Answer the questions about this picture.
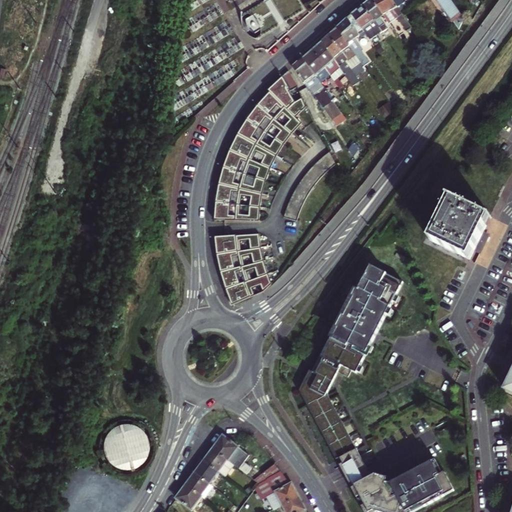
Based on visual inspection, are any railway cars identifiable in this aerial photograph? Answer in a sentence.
No, I can see no railway car in this picture.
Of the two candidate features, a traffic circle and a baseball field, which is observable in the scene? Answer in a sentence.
This aerial view contains a traffic circle.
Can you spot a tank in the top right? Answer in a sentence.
No, there's no tank to be seen in the top right.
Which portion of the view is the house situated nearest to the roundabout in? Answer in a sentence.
The house situated nearest to the roundabout appears toward the center of the photo.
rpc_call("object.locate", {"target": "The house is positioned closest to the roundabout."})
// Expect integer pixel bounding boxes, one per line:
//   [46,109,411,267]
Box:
[226,283,250,304]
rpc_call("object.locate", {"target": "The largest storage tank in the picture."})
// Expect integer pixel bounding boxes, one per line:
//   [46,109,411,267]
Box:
[104,424,152,470]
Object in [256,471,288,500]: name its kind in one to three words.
building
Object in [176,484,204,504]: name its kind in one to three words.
house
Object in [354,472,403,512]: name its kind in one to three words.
building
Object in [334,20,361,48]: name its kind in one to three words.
house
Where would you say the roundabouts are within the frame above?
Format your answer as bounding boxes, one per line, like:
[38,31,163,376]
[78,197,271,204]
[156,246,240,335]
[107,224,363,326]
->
[162,306,262,406]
